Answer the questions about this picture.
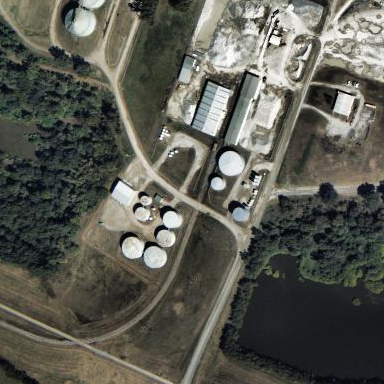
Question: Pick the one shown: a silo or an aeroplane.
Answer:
silo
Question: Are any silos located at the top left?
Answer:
Yes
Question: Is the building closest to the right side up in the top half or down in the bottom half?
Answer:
top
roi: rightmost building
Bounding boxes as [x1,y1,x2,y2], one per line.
[333,92,355,116]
